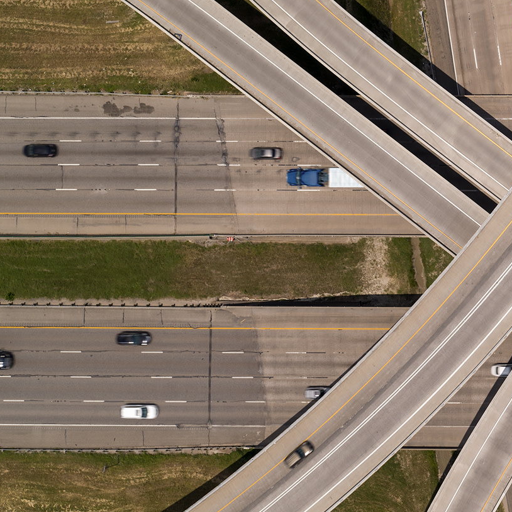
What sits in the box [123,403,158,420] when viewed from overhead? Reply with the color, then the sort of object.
white car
